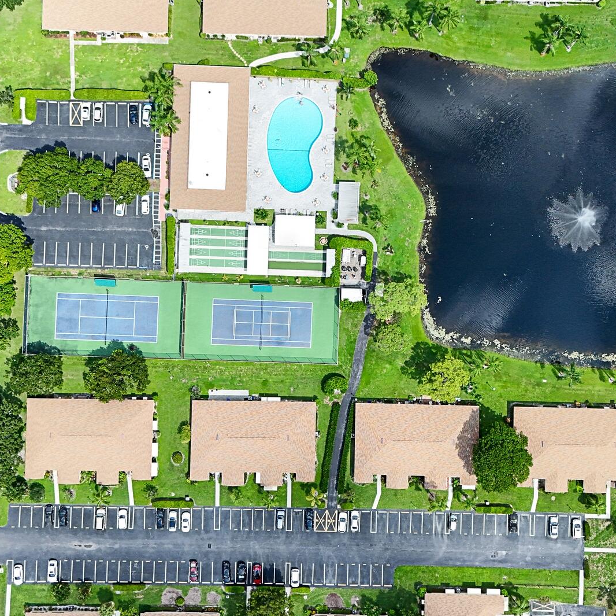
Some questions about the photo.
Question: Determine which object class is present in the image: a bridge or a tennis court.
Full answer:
Of the two, only a tennis court appears.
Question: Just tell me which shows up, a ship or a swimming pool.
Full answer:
The image shows a swimming pool.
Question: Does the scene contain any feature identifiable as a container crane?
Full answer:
No, no container crane is visible in the view.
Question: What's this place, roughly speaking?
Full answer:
The area seen from above is a residential area.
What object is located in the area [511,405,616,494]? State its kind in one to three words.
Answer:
house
